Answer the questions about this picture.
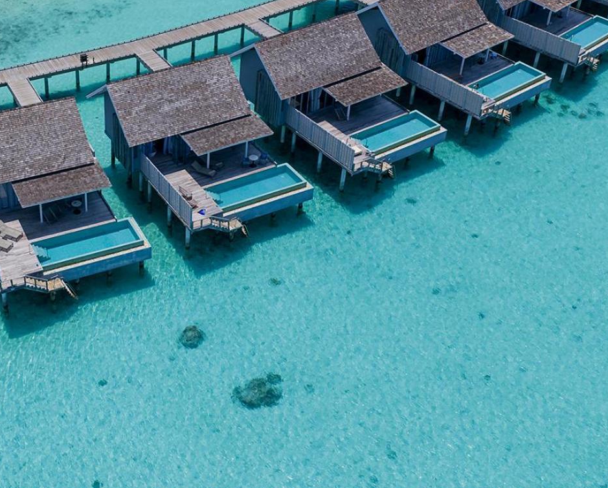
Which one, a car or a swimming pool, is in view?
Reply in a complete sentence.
I can see a swimming pool in this picture.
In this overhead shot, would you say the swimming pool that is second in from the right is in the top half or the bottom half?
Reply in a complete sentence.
It is in the top half that the swimming pool that is second in from the right appears.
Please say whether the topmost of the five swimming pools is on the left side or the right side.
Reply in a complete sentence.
The topmost of the five swimming pools is on the right side of the image.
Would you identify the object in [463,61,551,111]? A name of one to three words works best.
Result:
swimming pool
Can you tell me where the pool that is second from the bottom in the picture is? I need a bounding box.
[200,162,313,222]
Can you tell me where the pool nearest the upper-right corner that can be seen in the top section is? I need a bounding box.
[554,15,608,58]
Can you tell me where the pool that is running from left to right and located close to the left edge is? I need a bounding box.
[28,217,150,282]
